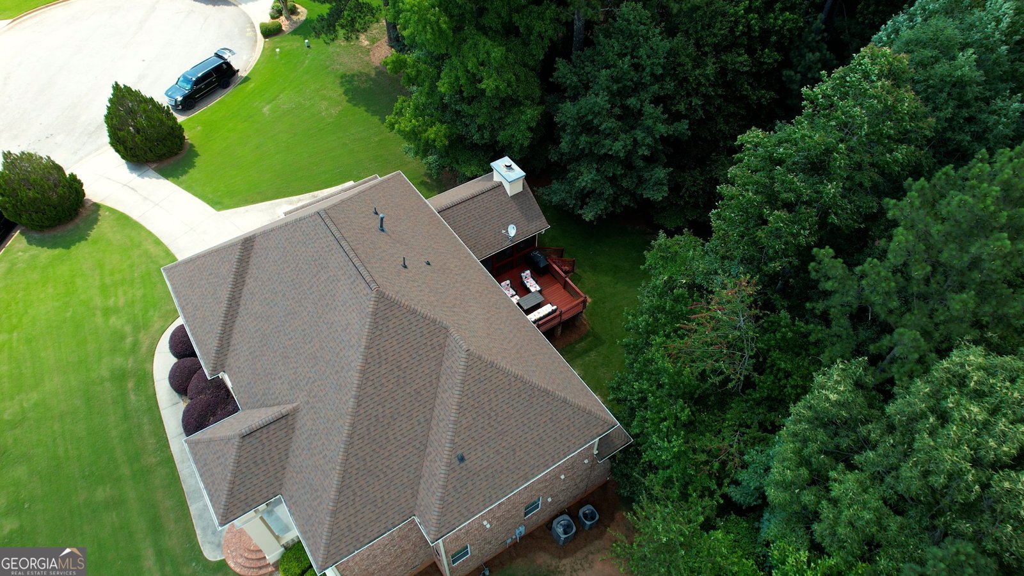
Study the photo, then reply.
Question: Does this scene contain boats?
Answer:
No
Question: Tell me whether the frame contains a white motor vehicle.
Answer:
No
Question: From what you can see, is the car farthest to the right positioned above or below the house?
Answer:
above it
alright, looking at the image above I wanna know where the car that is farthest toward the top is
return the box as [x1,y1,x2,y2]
[161,48,239,110]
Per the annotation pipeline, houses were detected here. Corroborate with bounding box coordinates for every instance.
[161,157,633,576]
